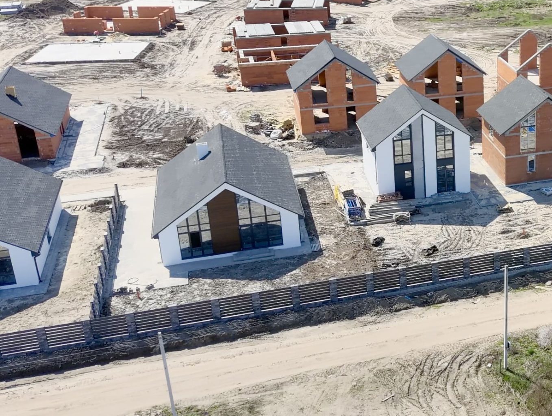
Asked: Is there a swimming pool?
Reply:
No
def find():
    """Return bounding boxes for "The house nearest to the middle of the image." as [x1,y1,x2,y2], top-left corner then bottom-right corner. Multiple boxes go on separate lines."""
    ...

[147,122,317,277]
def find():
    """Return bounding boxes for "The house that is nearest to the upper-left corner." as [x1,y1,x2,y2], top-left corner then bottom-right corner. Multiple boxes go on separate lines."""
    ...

[0,66,72,162]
